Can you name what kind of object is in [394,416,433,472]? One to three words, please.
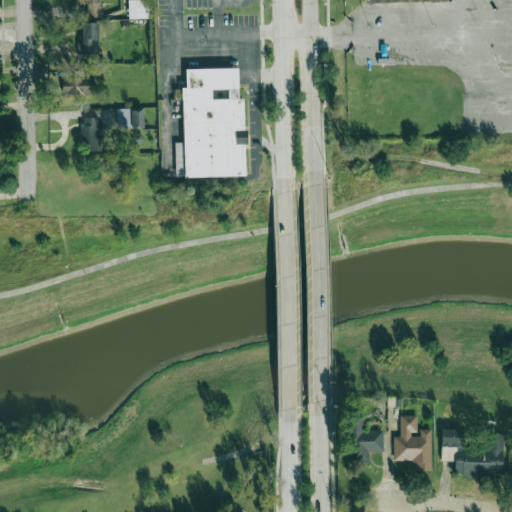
house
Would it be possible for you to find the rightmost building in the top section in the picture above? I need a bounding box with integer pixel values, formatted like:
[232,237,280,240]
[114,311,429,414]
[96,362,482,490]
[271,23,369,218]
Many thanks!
[182,68,248,178]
